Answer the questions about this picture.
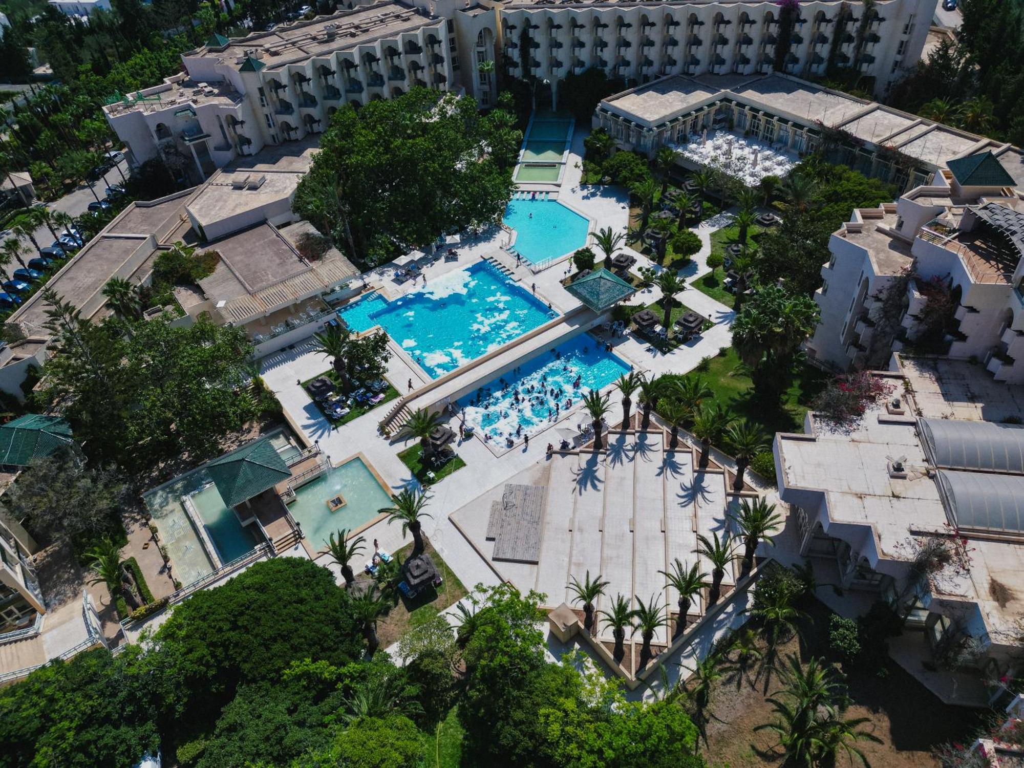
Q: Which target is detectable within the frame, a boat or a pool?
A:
pool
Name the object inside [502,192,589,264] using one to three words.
swimming pool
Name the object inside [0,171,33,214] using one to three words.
building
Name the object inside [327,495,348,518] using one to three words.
fountain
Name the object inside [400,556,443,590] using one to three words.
umbrella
